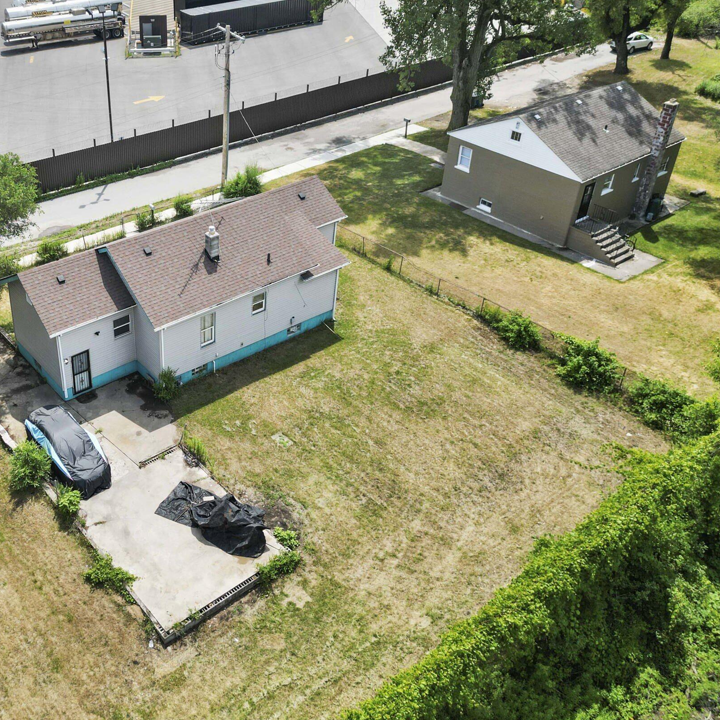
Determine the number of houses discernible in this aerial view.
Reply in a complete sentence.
In total, 2 houses can be seen.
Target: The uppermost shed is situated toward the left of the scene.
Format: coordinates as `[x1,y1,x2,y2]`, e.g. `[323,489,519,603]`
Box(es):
[137,15,163,48]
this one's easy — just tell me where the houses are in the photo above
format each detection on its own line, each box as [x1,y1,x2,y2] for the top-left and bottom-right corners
[2,171,354,399]
[439,81,694,266]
